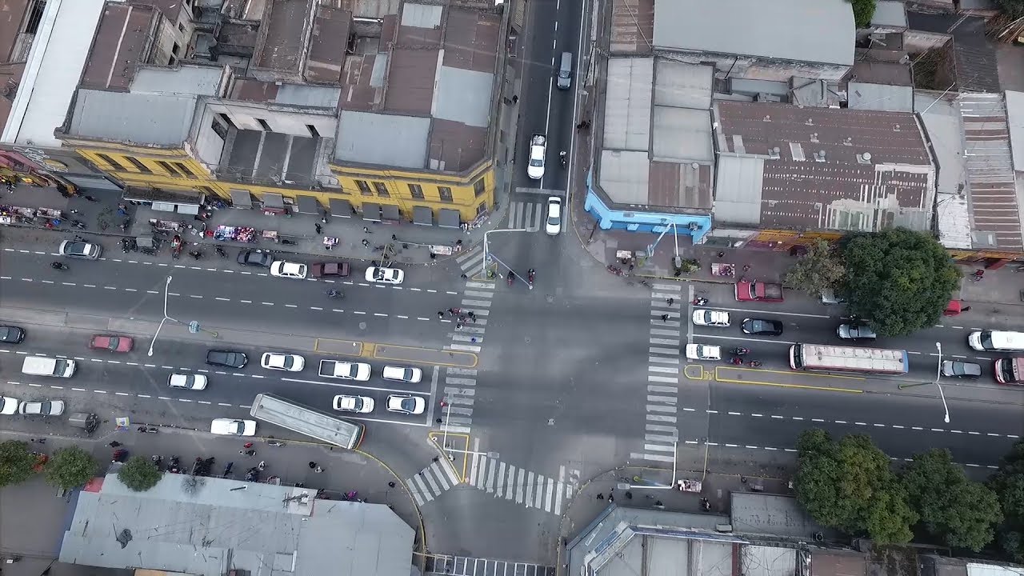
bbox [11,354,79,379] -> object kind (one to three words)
vehicle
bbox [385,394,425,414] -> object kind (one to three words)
car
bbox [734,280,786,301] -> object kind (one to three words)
truck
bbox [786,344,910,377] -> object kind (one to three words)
bus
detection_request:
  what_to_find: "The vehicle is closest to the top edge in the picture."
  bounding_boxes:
[555,50,574,93]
